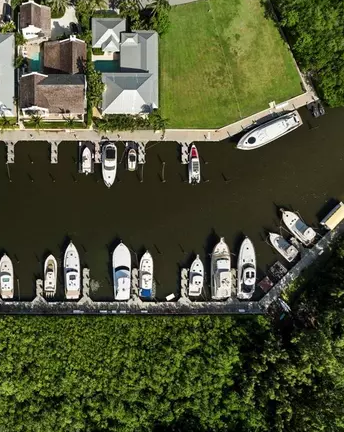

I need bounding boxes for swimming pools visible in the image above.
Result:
[92,60,120,73]
[30,52,44,70]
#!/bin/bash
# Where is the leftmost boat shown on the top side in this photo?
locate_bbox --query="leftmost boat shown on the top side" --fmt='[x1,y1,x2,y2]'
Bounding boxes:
[77,147,96,179]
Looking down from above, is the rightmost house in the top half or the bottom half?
top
